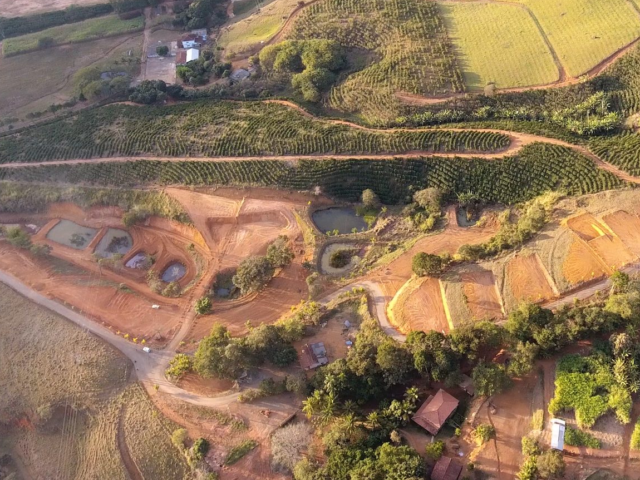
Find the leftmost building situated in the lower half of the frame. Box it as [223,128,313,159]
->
[297,340,329,369]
